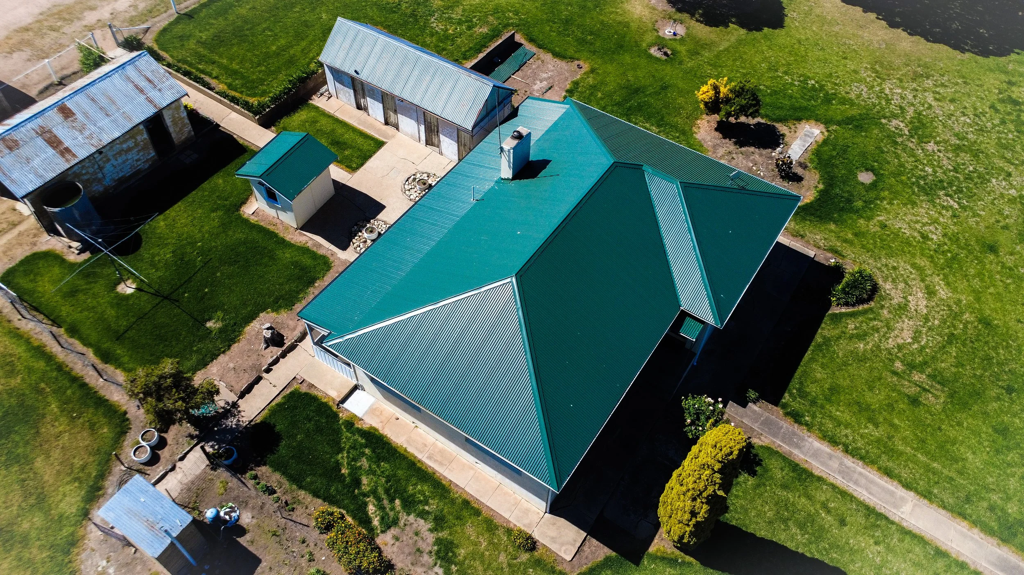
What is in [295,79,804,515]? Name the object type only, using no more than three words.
house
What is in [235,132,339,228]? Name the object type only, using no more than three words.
shed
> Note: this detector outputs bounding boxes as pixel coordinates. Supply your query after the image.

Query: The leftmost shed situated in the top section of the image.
[0,49,191,239]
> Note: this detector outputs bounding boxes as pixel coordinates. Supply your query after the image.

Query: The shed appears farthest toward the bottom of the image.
[96,474,209,575]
